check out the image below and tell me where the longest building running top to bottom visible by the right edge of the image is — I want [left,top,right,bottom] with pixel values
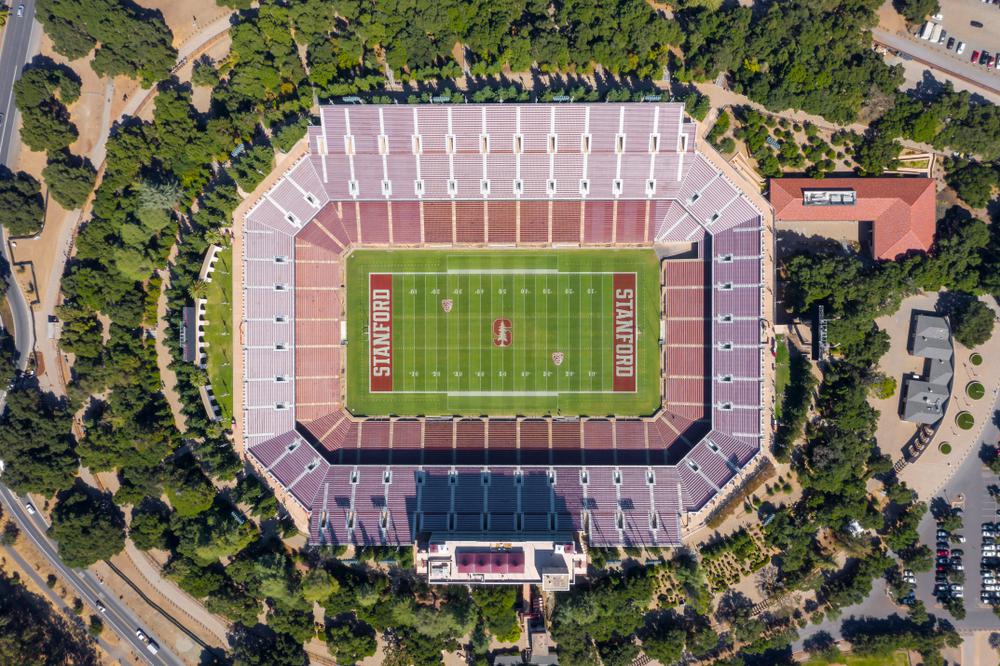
[899,315,959,465]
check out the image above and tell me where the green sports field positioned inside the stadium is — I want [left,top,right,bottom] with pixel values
[347,249,660,415]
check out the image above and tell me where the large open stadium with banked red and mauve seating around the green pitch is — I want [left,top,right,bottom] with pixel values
[231,103,777,547]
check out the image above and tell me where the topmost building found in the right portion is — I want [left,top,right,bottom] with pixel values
[768,178,936,260]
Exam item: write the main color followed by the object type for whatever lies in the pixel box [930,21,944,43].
white vehicle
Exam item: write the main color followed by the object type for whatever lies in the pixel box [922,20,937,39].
white vehicle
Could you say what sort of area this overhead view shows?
sports ground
